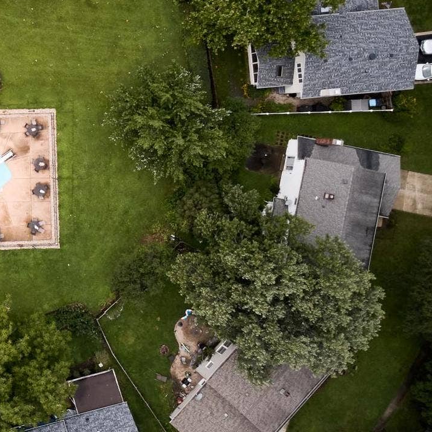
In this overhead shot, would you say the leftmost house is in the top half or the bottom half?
bottom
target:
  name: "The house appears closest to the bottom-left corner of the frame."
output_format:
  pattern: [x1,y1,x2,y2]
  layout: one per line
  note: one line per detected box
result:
[33,365,139,432]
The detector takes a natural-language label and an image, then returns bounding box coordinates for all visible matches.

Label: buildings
[263,135,401,269]
[33,365,139,432]
[164,337,330,432]
[244,0,419,100]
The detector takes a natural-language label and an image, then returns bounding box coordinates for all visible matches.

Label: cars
[415,63,432,82]
[418,39,432,56]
